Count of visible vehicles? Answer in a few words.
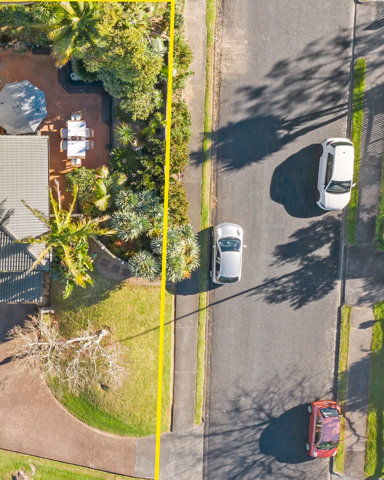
3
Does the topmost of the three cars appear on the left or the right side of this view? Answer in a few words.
right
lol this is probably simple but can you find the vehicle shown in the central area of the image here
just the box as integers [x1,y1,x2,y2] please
[211,221,248,283]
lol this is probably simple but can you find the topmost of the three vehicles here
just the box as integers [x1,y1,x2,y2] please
[311,139,351,208]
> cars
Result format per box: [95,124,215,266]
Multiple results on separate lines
[311,139,351,208]
[302,401,340,462]
[211,221,248,283]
